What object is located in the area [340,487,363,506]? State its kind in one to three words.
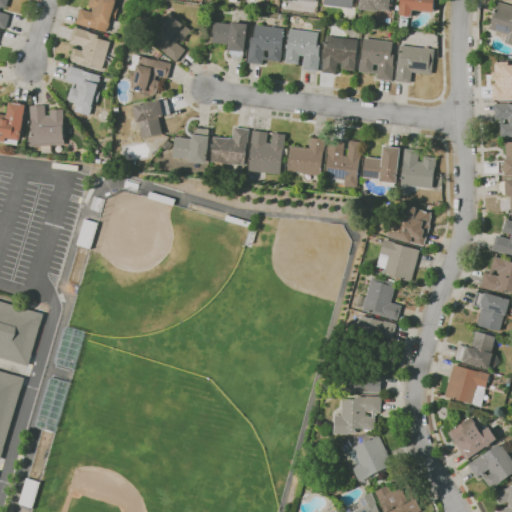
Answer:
swimming pool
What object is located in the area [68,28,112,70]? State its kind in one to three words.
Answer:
house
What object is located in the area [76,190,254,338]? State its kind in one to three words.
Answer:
baseball field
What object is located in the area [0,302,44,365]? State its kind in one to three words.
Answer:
building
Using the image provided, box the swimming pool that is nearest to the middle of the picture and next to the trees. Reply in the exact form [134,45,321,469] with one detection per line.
[366,180,390,195]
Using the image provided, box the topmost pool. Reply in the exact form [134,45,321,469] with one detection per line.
[411,12,431,28]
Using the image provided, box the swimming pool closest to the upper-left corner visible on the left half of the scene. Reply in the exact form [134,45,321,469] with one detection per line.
[117,76,130,106]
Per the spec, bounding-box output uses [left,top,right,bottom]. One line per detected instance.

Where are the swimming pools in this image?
[340,487,363,506]
[411,12,431,28]
[366,180,390,195]
[492,38,512,54]
[300,496,326,512]
[117,76,130,106]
